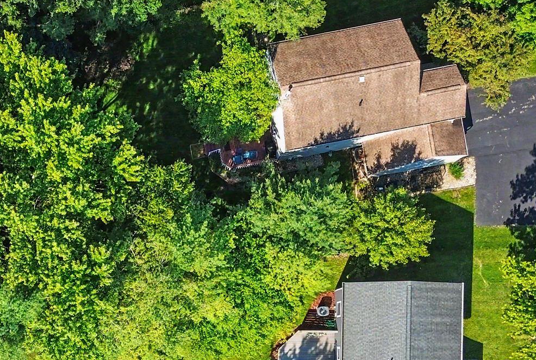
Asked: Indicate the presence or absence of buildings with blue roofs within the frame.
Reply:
No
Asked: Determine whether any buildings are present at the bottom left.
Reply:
No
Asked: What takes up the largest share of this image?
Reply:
trees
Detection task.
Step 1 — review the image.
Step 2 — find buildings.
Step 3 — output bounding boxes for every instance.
[334,281,464,360]
[262,17,469,181]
